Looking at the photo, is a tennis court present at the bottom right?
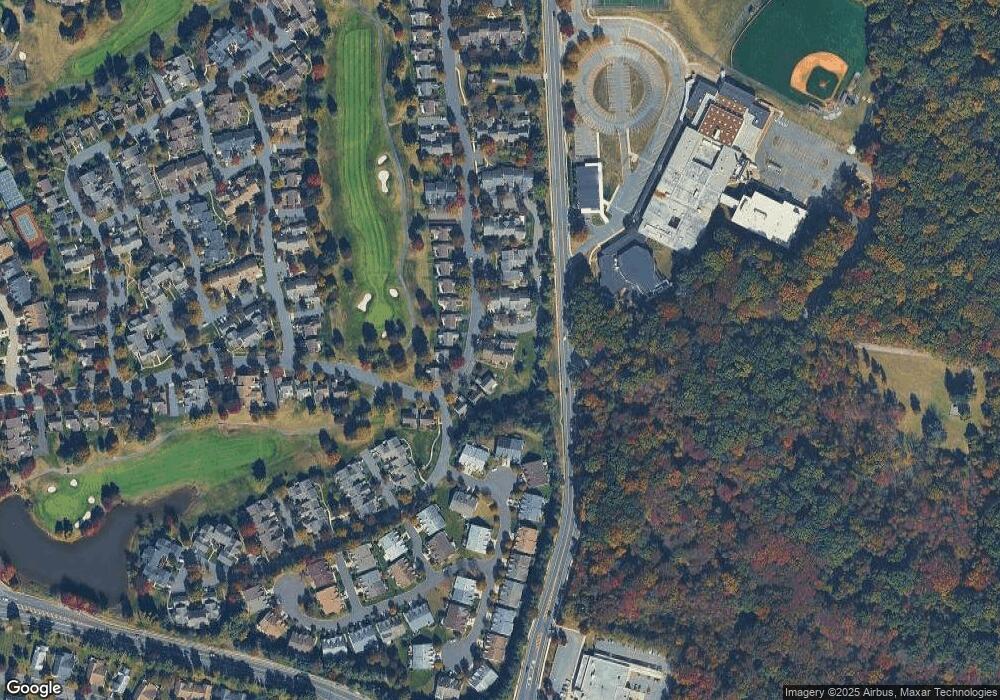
No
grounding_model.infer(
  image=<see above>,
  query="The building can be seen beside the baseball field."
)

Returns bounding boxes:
[638,79,808,249]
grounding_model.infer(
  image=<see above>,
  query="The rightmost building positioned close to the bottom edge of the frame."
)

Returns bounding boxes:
[569,654,667,700]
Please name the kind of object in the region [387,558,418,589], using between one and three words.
house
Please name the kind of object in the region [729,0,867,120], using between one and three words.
baseball field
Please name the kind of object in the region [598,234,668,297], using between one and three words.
building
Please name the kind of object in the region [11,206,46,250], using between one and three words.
tennis court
